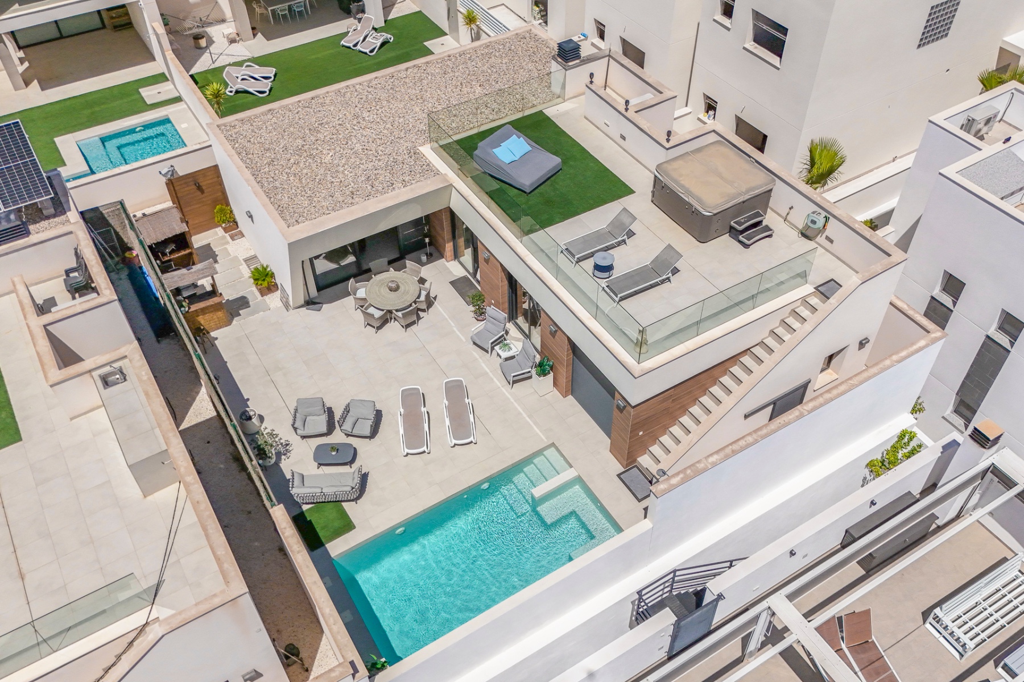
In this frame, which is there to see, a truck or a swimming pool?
swimming pool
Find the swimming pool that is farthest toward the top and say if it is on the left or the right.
left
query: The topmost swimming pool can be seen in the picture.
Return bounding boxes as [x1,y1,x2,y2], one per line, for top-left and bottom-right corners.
[66,118,184,181]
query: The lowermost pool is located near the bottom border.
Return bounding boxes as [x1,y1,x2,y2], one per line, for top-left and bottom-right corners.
[333,446,622,660]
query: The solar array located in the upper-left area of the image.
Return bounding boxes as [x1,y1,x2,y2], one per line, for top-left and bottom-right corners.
[0,119,56,223]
